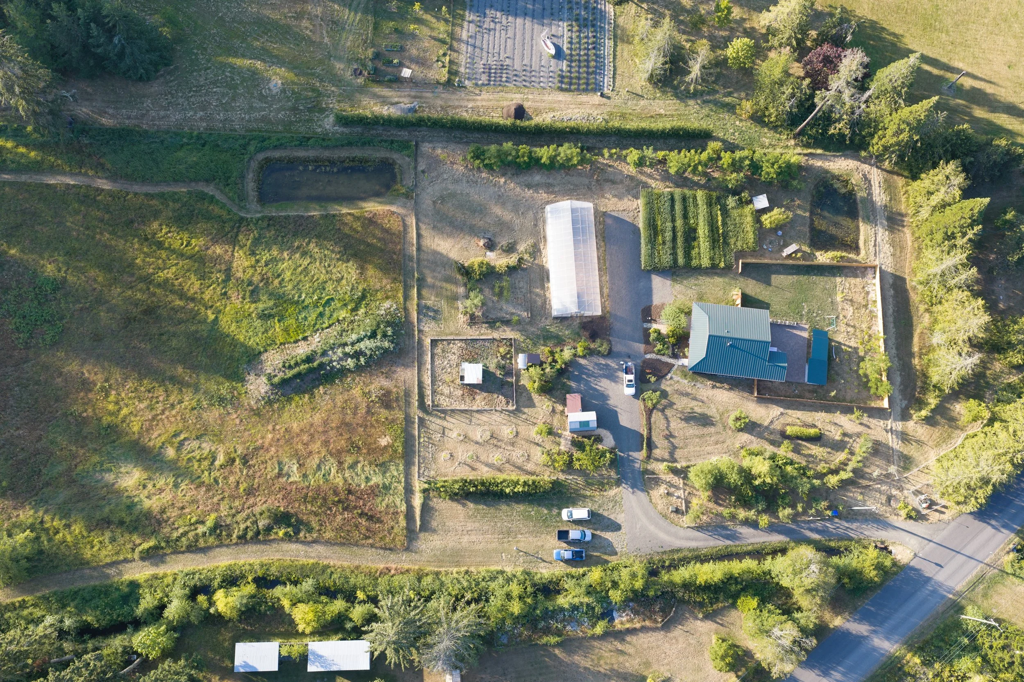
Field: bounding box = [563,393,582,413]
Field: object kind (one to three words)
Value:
shed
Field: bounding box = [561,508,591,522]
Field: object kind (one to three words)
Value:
car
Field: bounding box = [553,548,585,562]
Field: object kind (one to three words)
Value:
vehicle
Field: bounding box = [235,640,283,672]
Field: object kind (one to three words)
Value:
barn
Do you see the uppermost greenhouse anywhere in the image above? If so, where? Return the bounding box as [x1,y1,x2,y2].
[544,200,601,317]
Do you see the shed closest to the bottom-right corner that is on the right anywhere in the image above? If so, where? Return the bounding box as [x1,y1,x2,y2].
[803,330,828,385]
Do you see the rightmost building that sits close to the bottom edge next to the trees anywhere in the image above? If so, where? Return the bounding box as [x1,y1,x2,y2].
[308,638,371,672]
